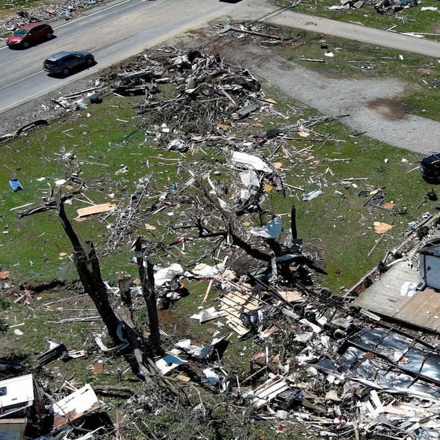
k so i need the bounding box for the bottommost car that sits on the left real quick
[40,47,96,74]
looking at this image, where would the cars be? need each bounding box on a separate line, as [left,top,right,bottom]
[4,18,57,46]
[40,47,96,74]
[416,146,440,181]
